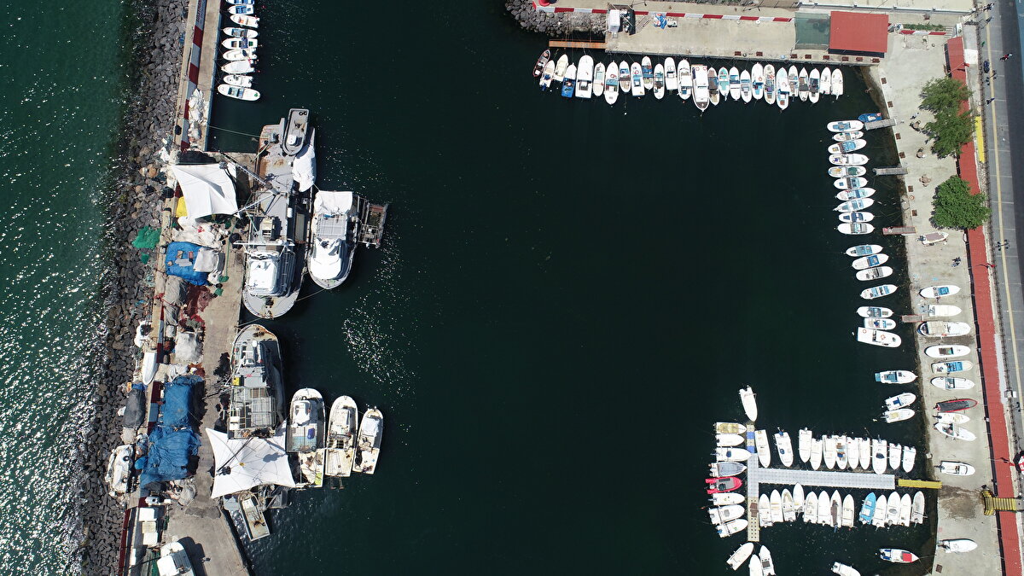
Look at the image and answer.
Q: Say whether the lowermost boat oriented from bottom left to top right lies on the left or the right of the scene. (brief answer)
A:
right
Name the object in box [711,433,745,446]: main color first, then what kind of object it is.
white boat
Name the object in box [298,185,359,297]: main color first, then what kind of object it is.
white vessel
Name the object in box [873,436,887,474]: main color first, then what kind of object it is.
white boat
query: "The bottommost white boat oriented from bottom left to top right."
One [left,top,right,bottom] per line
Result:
[727,544,753,570]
